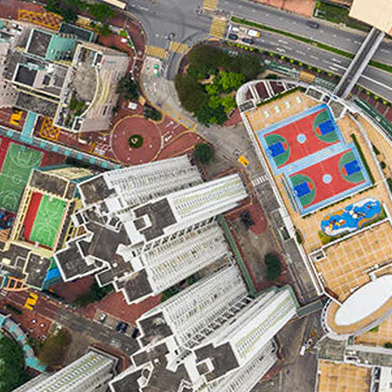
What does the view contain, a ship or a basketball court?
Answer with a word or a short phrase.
basketball court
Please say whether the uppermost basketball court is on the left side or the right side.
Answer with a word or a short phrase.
right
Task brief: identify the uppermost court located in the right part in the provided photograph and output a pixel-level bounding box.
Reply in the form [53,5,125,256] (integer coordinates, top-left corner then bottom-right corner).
[260,103,346,175]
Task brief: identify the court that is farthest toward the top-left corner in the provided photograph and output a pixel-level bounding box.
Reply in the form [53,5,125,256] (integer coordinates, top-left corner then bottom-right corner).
[0,141,44,214]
